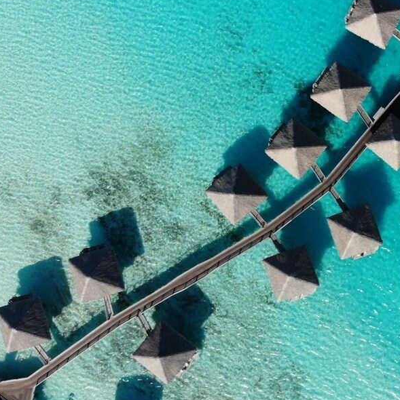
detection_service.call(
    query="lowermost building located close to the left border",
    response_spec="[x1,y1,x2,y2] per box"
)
[0,292,54,355]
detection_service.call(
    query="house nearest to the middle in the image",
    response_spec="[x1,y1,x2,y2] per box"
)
[204,162,268,226]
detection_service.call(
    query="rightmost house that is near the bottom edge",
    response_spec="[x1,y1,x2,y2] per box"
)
[134,319,199,386]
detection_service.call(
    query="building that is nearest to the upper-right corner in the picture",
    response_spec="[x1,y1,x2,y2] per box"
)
[345,0,400,48]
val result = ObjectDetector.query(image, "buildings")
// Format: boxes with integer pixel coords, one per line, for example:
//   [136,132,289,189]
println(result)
[310,60,372,123]
[0,292,54,355]
[67,242,127,303]
[134,319,199,386]
[263,117,329,180]
[262,242,324,303]
[345,0,400,48]
[204,162,268,226]
[365,110,400,172]
[326,201,385,262]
